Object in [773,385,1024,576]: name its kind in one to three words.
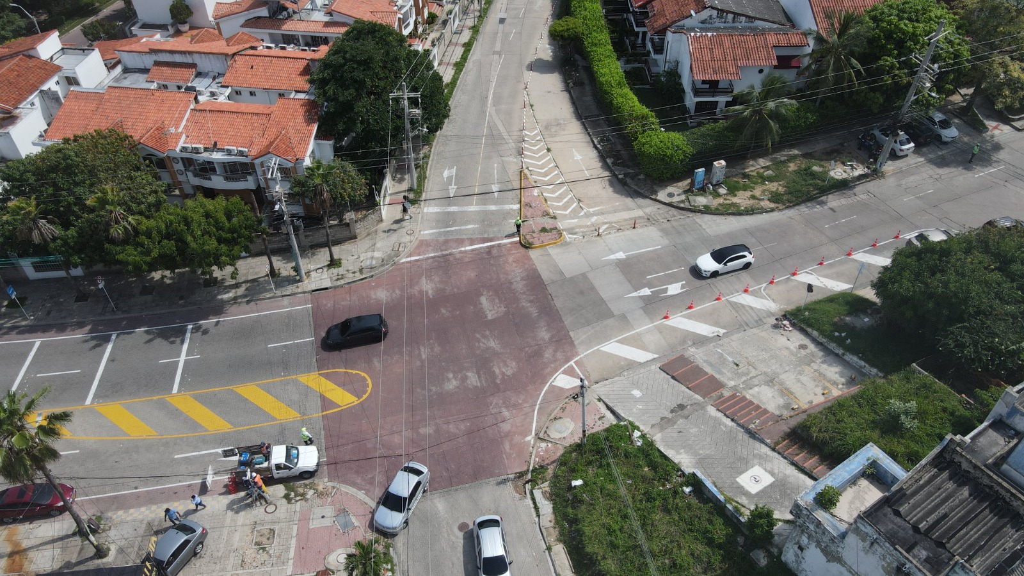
house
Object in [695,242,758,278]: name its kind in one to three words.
car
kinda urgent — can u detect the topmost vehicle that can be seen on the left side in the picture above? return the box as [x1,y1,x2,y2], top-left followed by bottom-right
[325,310,391,350]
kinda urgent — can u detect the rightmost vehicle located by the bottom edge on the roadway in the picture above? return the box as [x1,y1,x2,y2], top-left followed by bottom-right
[472,512,516,576]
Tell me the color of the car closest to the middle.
black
